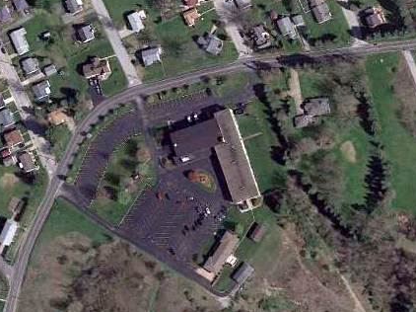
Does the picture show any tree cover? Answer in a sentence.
Yes, tree cover shows up in the scene.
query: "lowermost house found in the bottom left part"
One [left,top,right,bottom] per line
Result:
[0,217,19,247]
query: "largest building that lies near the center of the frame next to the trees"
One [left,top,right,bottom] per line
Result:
[169,108,262,212]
